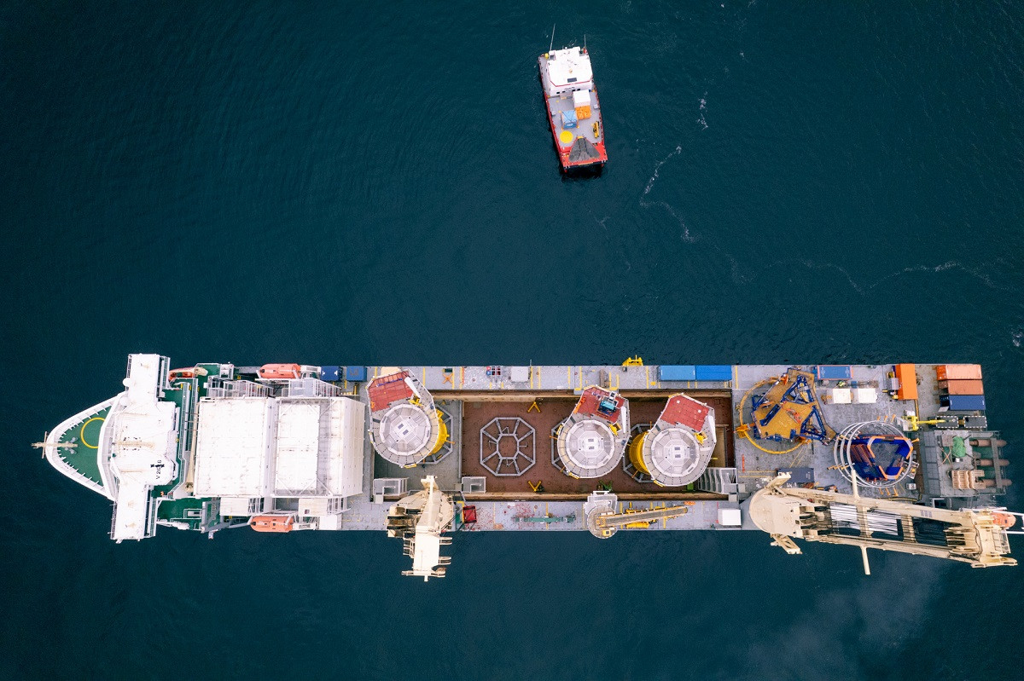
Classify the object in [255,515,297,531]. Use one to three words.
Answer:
boat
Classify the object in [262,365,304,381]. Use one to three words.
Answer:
boat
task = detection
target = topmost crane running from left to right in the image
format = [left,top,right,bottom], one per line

[892,410,945,431]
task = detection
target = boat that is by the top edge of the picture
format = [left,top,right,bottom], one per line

[535,24,608,174]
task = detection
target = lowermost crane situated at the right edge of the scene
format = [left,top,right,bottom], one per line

[730,460,1016,575]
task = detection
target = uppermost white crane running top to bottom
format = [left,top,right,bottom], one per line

[183,401,199,493]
